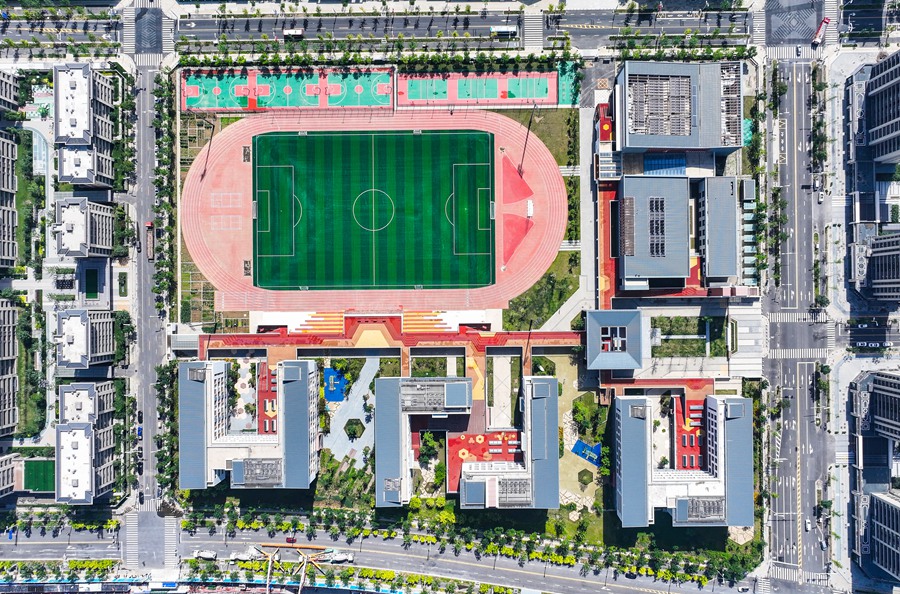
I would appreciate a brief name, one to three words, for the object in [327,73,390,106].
basketball court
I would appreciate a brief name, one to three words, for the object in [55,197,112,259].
building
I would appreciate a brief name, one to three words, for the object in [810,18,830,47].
vehicle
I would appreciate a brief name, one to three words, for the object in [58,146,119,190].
building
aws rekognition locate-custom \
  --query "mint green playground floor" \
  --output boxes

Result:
[20,85,53,118]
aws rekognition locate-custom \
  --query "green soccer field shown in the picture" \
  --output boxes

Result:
[252,131,495,290]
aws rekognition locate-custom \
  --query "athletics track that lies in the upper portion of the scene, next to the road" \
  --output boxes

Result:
[181,110,568,311]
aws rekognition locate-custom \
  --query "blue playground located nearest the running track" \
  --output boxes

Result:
[324,368,348,402]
